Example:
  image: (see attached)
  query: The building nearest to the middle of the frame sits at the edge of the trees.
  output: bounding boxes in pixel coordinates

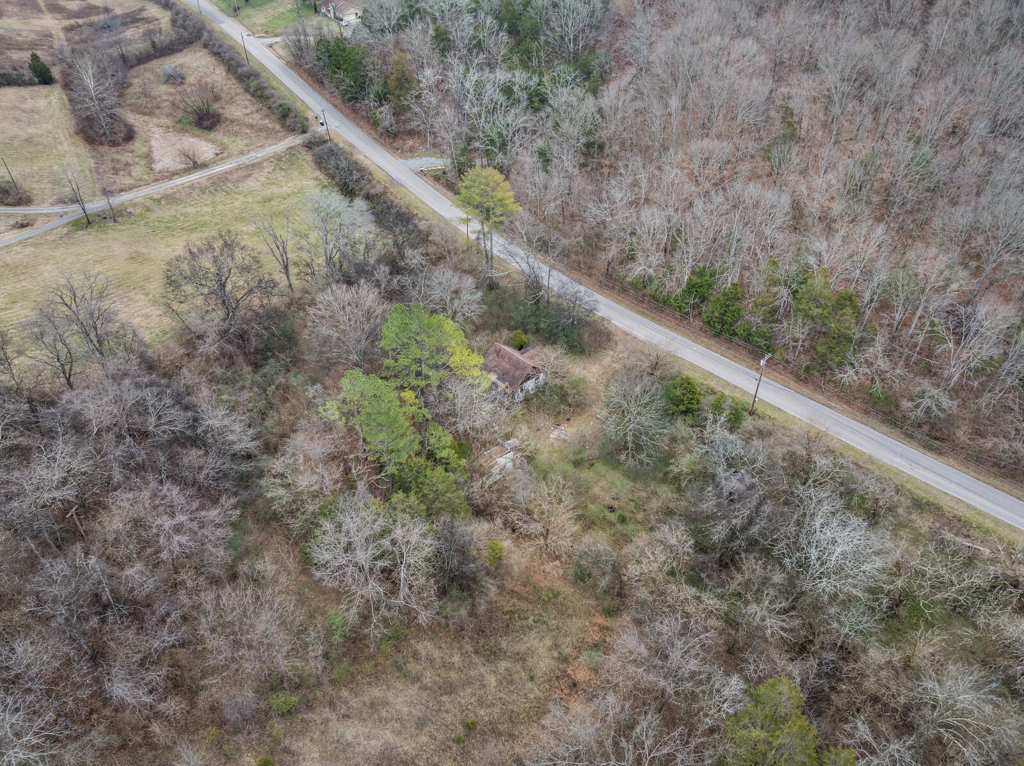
[478,346,545,406]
